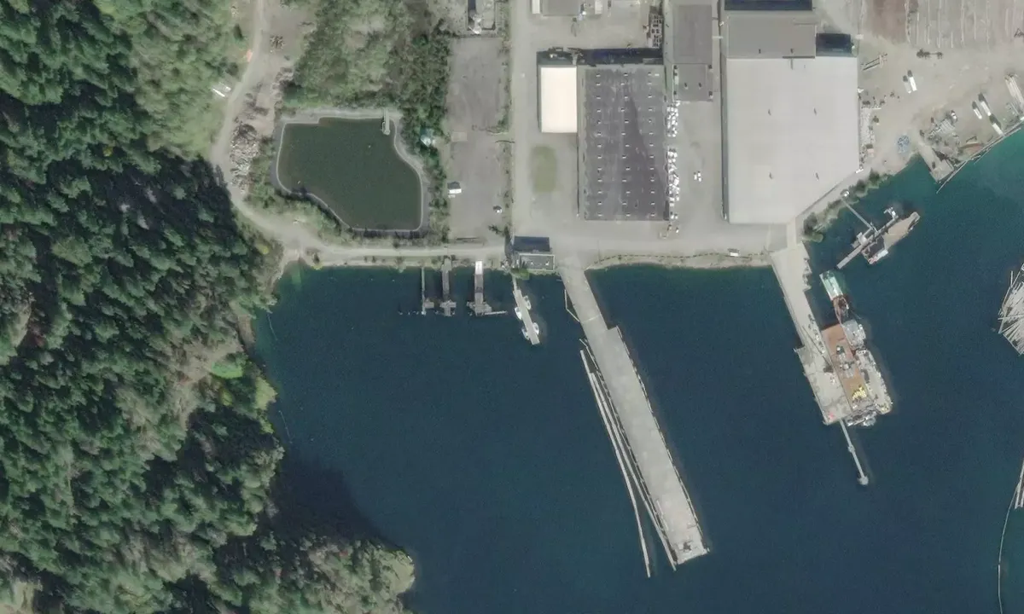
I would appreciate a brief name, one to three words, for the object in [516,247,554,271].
building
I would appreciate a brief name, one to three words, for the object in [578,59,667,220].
building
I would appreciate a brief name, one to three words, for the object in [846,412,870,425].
boat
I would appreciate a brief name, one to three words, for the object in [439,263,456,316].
pier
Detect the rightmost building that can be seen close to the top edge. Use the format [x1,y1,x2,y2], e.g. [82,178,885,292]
[722,13,859,224]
